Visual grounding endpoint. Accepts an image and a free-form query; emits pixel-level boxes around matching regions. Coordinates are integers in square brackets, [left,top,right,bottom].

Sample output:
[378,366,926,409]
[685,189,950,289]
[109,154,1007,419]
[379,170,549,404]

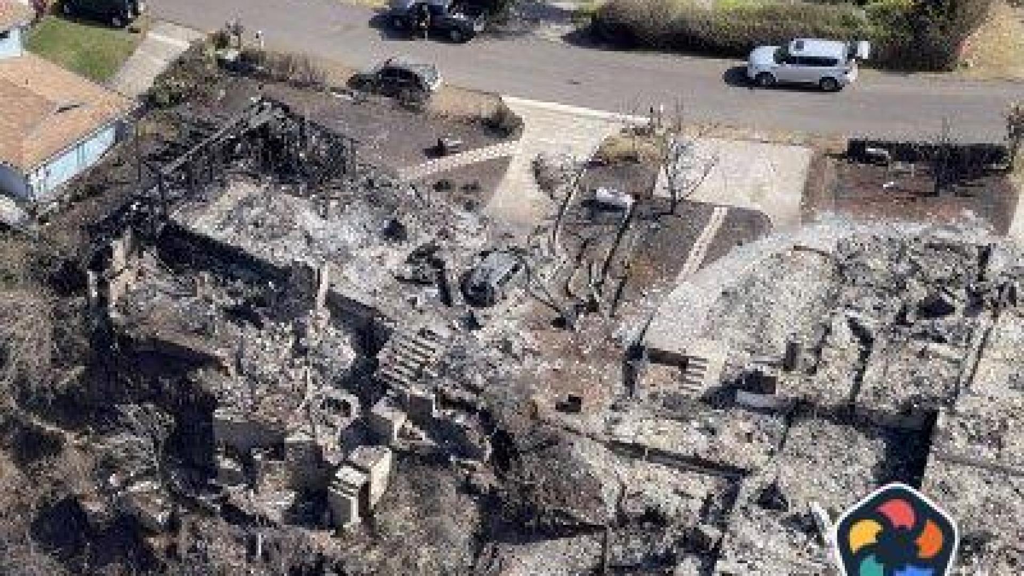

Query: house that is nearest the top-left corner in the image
[0,0,131,213]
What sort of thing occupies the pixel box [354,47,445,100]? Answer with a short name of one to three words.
car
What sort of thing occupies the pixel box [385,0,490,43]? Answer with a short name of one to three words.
car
